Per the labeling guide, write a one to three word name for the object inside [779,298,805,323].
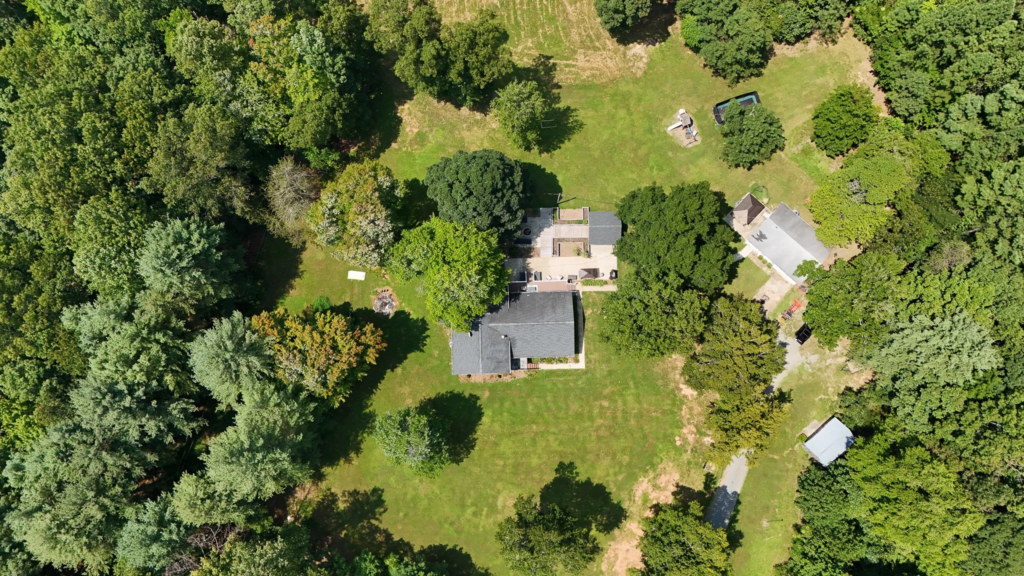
work vehicle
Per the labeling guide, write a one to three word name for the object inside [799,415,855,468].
barn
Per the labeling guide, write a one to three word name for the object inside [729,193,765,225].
gazebo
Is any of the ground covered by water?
No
